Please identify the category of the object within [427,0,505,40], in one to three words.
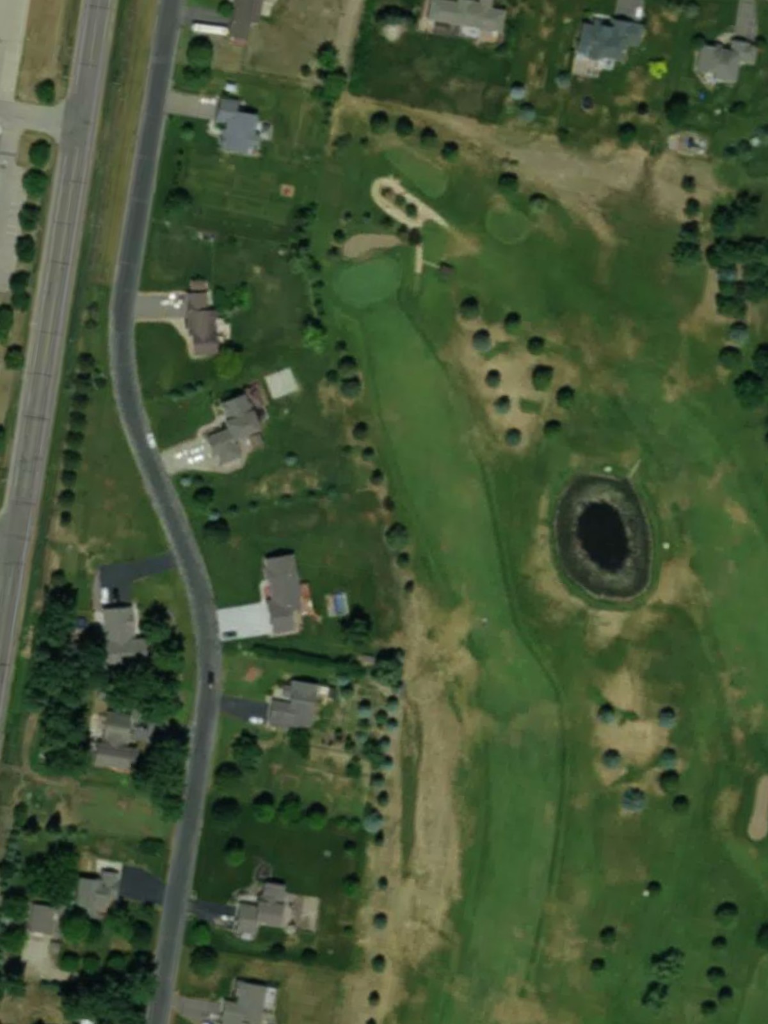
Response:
house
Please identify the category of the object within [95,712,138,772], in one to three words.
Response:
house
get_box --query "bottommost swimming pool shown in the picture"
[326,593,348,615]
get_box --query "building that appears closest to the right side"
[696,37,757,85]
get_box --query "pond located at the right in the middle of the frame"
[555,473,650,600]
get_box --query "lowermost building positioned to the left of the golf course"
[220,981,277,1024]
